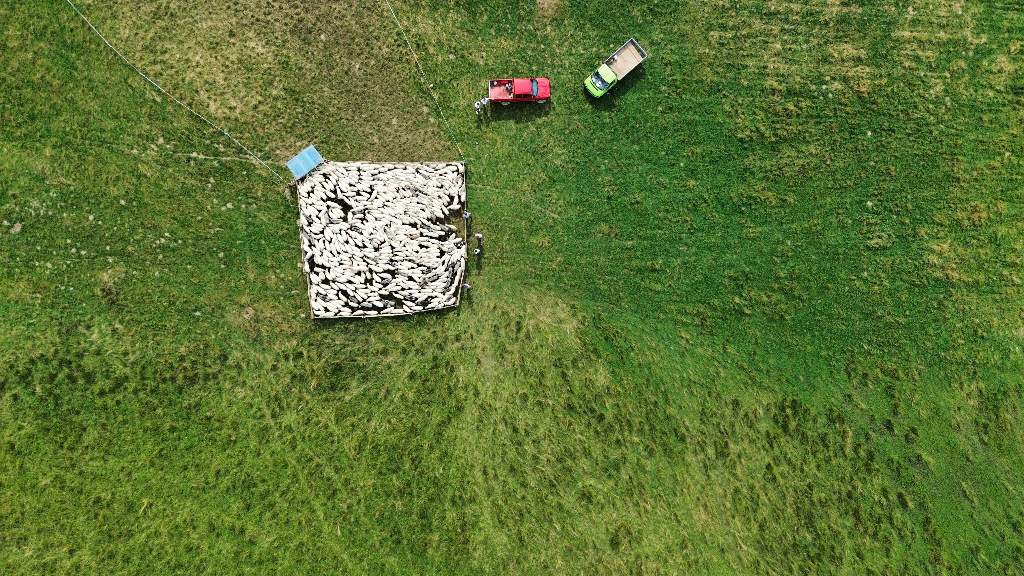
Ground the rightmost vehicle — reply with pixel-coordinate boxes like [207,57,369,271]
[583,38,648,101]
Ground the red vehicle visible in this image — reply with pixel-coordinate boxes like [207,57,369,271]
[487,78,551,106]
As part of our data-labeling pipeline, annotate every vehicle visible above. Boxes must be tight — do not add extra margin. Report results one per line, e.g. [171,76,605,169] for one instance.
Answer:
[583,38,648,101]
[487,78,551,106]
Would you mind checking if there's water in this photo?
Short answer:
No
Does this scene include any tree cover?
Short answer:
No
